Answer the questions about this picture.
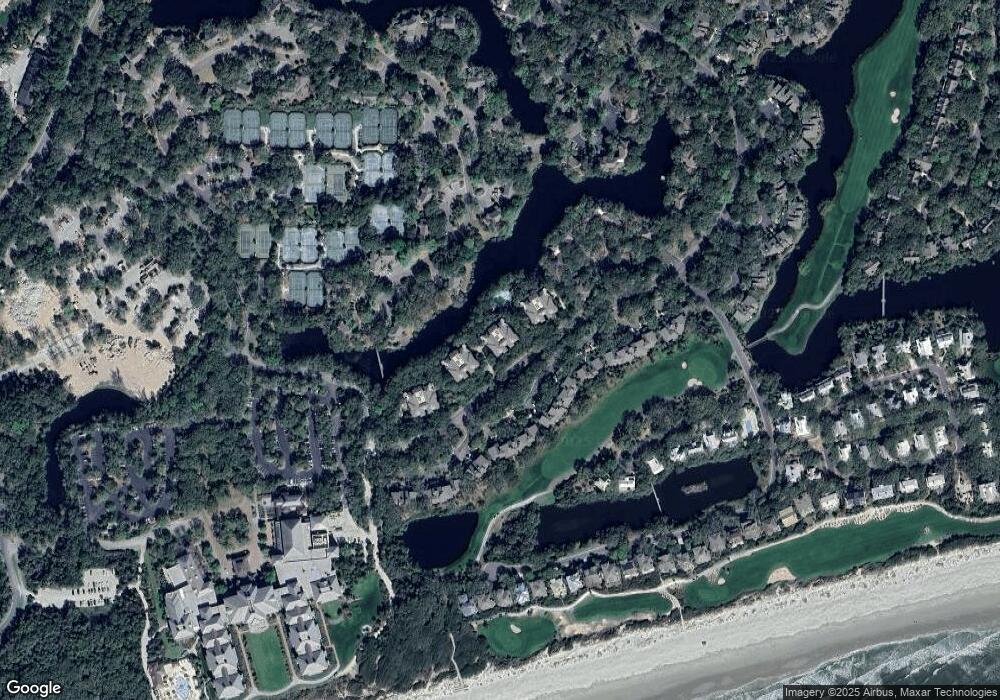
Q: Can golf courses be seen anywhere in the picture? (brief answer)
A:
Yes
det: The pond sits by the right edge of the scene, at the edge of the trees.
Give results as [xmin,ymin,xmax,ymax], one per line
[744,0,1000,390]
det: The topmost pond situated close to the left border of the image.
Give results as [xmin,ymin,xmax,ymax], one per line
[47,388,140,508]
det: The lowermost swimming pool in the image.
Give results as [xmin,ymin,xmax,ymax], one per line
[153,657,204,700]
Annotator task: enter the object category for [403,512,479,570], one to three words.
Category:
pond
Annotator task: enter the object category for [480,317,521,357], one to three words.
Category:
house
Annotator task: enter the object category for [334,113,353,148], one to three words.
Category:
tennis court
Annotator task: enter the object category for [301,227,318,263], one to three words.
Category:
tennis court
